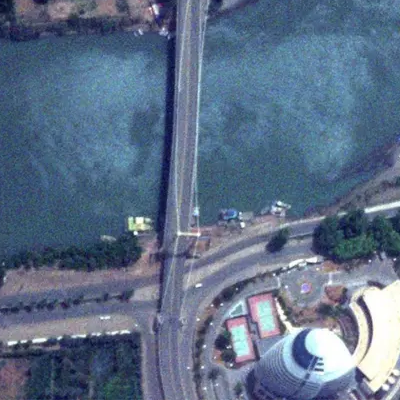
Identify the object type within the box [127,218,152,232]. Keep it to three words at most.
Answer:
ship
